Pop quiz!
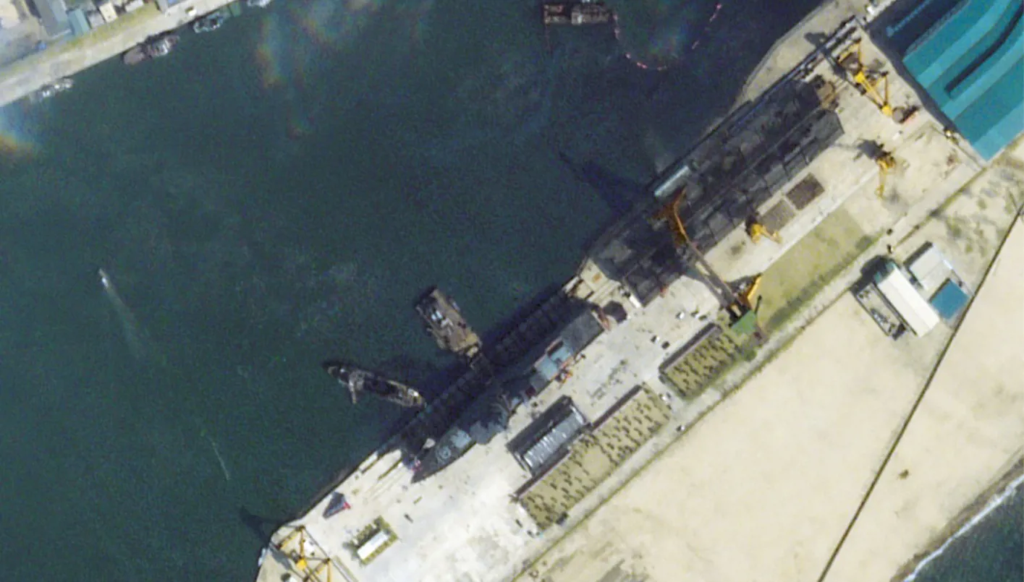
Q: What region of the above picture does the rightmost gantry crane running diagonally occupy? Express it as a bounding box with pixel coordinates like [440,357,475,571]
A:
[835,38,896,116]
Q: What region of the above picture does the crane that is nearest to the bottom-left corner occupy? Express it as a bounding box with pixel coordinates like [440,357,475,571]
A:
[277,525,332,582]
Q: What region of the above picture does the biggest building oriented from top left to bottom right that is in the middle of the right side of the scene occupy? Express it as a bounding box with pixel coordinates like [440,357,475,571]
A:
[875,262,940,337]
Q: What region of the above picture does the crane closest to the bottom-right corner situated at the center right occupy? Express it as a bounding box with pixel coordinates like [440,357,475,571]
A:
[729,273,762,334]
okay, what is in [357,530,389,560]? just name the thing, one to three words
shed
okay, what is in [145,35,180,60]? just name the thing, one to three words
boat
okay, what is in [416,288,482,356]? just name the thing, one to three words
ship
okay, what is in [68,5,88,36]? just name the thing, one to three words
house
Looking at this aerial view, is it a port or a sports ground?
port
